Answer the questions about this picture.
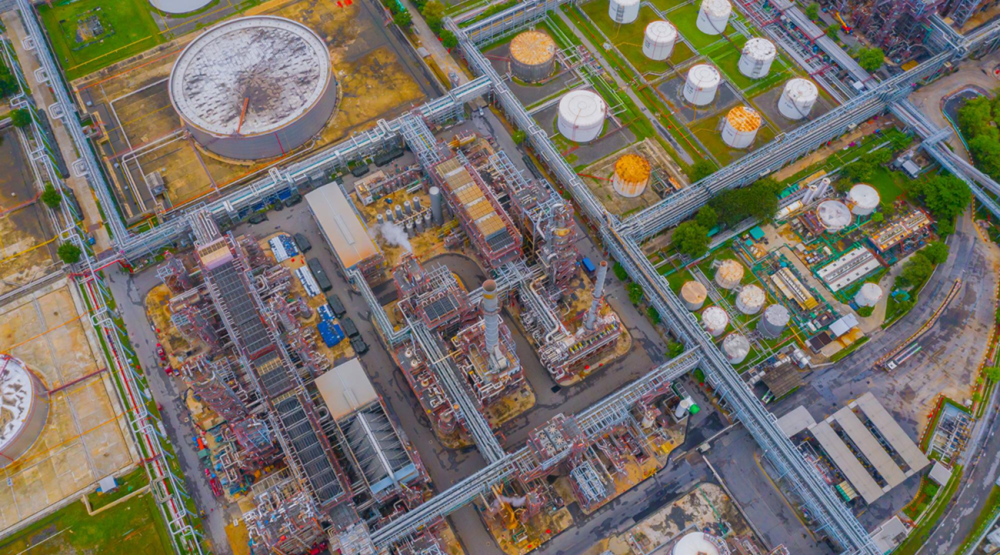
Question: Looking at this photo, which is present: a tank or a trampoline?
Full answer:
There is a tank in the scene.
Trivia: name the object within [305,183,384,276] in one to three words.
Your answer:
building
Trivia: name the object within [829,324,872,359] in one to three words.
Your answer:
building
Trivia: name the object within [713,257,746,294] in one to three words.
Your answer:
storage tank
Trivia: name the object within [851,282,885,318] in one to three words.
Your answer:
storage tank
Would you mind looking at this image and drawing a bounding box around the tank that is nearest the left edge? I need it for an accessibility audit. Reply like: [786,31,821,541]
[0,345,58,464]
